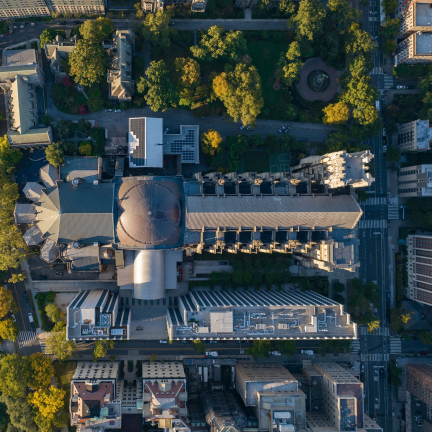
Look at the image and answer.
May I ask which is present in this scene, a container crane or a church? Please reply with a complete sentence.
The image shows a church.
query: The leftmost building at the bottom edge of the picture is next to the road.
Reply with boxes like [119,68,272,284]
[69,362,126,432]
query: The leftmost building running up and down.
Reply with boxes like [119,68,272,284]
[0,40,58,150]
